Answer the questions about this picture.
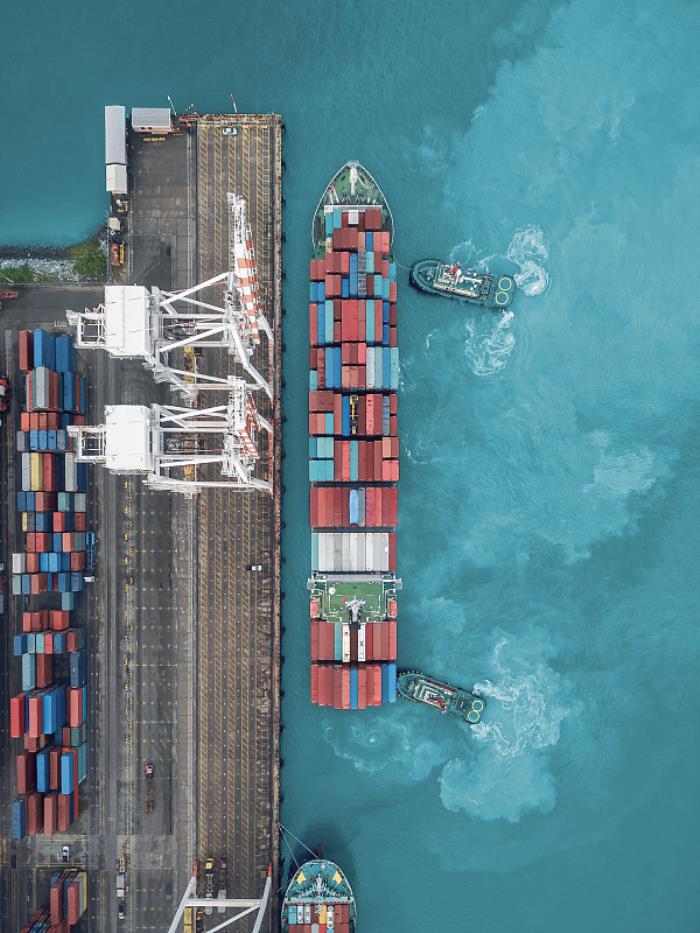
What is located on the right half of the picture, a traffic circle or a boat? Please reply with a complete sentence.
The feature located on the right half of the picture is a boat.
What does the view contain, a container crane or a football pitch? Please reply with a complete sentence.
I can see a container crane in this picture.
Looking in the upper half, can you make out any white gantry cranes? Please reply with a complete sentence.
Yes, looking in the upper half, one can make out a white gantry crane.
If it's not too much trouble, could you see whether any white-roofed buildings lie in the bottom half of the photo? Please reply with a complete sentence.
No, no white-roofed building can be made out in the bottom half of the photo.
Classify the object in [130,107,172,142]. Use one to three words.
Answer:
building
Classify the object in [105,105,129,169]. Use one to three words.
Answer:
building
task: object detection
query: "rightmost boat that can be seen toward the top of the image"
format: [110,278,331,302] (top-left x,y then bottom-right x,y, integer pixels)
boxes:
[408,259,519,311]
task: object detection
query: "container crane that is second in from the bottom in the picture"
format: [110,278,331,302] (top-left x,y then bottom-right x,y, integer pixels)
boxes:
[66,371,274,502]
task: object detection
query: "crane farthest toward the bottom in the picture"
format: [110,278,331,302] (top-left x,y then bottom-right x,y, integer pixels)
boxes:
[169,866,274,933]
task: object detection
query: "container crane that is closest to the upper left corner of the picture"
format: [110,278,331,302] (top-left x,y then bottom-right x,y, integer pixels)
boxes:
[66,185,274,410]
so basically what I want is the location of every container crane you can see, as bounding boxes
[66,185,274,410]
[169,866,274,933]
[66,371,274,502]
